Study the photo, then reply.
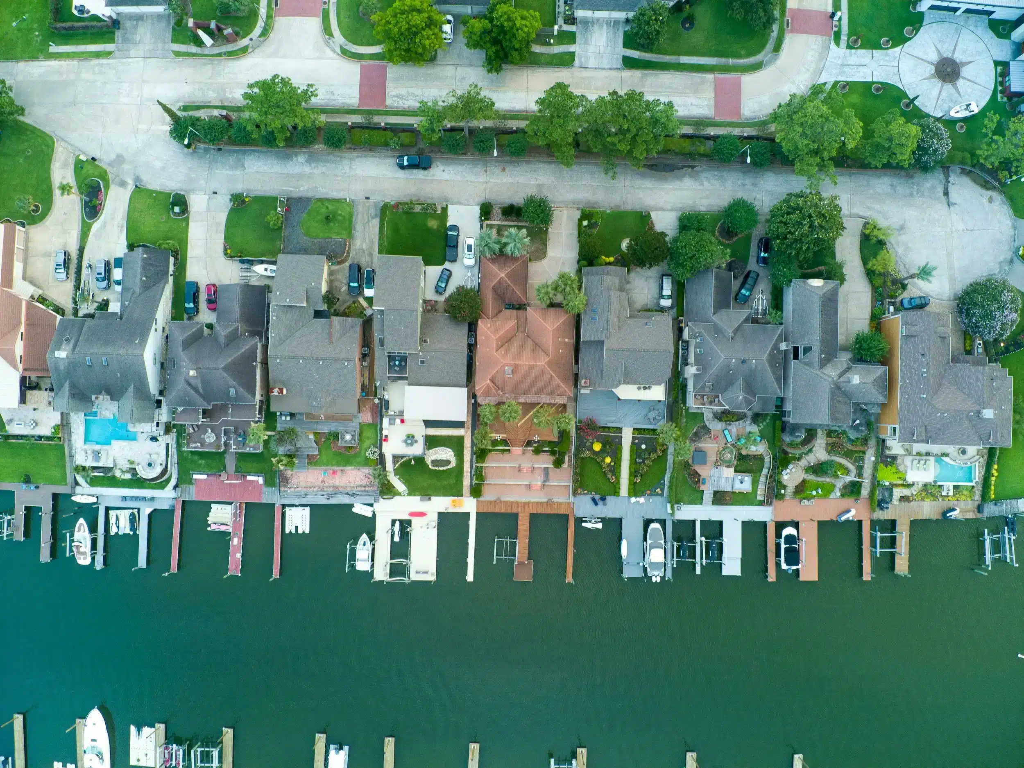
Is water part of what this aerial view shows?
Yes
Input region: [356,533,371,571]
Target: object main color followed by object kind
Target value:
white boat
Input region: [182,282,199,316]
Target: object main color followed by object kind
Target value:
blue vehicle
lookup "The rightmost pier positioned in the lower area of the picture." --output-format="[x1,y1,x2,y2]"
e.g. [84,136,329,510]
[983,497,1024,518]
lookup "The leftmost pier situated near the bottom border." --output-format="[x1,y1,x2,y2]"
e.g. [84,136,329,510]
[1,714,30,768]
